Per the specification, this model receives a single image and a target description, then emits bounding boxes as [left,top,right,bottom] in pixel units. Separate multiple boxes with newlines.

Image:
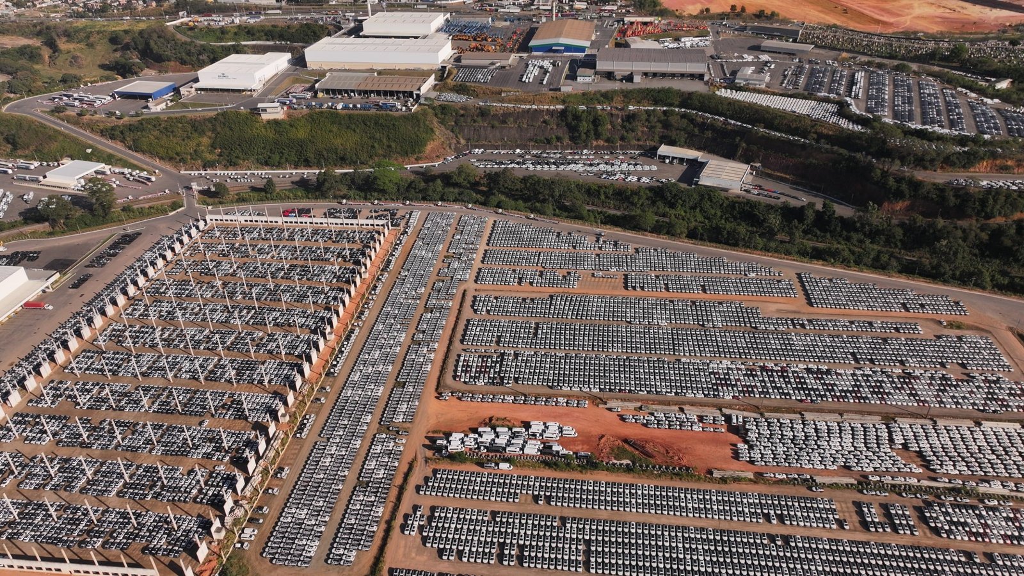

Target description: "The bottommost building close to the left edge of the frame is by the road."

[0,265,66,323]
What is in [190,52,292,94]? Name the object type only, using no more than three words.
building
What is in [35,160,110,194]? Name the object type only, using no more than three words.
shed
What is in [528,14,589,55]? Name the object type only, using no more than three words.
building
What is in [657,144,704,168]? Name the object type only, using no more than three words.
shed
